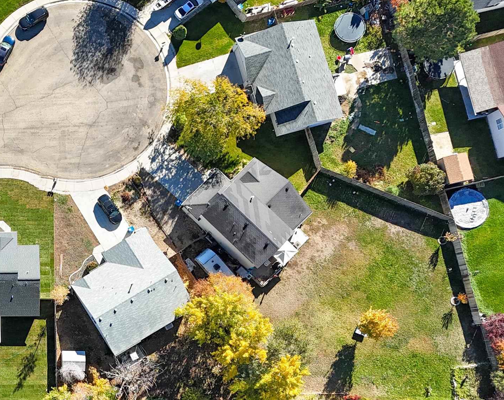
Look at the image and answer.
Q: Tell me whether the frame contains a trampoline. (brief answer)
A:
Yes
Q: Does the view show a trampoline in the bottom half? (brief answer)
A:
No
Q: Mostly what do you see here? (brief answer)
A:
paved ground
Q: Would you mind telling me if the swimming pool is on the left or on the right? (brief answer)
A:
right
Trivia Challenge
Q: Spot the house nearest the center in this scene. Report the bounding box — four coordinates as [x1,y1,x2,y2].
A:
[179,157,310,266]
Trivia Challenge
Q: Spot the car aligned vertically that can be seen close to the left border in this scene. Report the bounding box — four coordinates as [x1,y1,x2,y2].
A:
[0,35,16,67]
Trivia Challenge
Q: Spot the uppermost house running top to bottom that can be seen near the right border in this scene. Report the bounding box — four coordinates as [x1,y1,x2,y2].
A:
[452,44,504,168]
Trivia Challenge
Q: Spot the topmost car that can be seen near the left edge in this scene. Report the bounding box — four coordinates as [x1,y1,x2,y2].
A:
[17,4,51,32]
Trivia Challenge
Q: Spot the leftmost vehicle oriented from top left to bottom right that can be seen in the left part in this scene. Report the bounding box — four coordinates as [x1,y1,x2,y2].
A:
[96,192,124,226]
